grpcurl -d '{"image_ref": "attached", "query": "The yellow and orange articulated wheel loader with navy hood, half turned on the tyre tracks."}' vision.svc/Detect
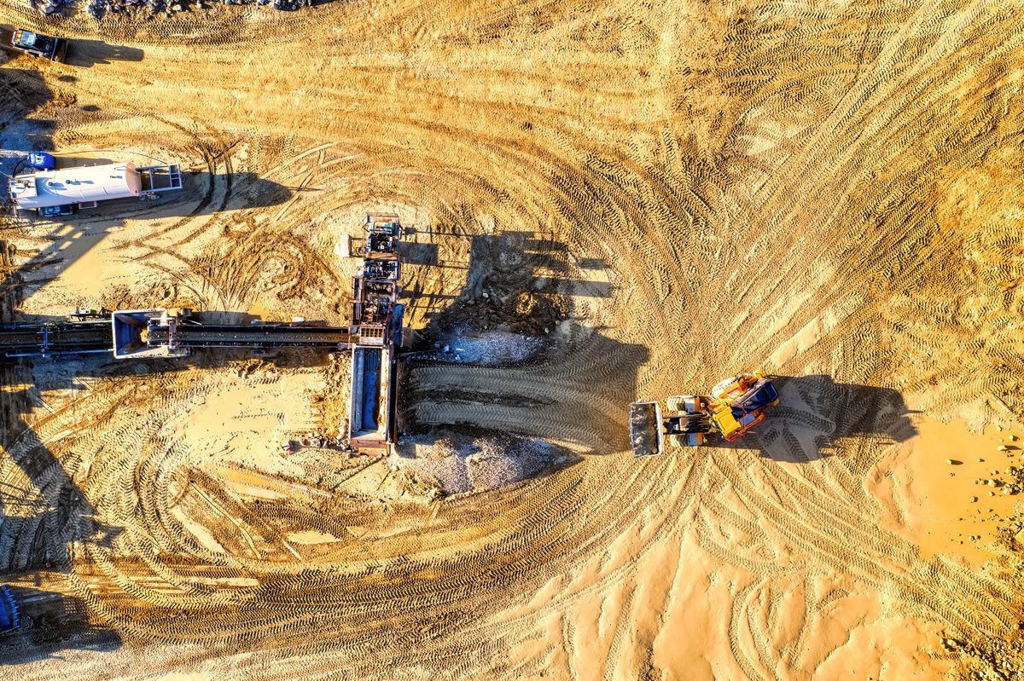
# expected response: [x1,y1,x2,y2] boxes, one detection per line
[628,367,783,454]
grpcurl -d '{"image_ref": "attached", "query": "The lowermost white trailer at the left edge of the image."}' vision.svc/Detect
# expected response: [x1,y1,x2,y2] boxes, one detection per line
[0,163,183,213]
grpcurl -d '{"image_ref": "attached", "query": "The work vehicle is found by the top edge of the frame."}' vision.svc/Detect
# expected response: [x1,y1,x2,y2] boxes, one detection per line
[10,21,71,63]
